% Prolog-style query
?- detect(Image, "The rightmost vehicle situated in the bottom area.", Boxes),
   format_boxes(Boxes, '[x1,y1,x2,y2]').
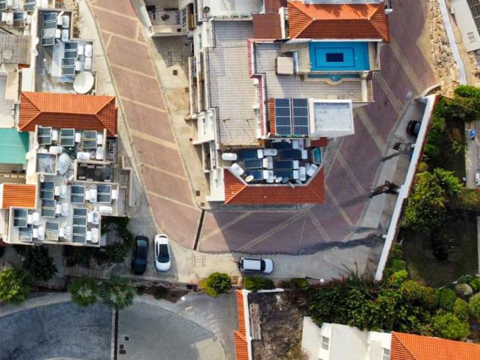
[239,257,274,275]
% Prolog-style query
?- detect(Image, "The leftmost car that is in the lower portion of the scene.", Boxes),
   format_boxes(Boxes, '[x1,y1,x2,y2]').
[129,235,151,274]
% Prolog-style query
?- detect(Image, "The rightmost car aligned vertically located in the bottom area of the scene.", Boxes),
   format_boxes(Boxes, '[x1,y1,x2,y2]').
[154,233,172,272]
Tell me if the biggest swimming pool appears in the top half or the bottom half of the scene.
top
